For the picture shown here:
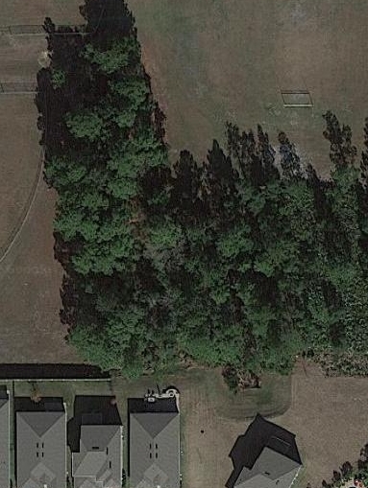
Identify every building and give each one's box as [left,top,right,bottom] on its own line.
[17,413,66,488]
[129,414,180,488]
[72,426,123,488]
[237,439,303,488]
[0,399,10,488]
